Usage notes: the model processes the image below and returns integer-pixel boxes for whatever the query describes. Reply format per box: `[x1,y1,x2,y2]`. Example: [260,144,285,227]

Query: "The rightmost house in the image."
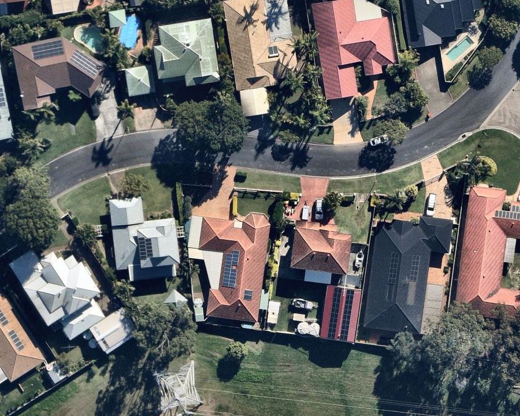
[454,183,520,322]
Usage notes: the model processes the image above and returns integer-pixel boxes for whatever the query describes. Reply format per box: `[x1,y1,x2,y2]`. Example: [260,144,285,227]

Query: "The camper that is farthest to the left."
[265,300,280,325]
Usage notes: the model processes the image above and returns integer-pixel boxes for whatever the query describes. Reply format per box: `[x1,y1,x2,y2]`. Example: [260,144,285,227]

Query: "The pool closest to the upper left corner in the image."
[74,24,105,53]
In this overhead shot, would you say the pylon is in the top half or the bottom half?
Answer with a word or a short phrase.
bottom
